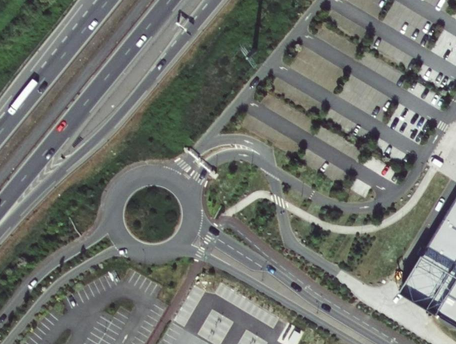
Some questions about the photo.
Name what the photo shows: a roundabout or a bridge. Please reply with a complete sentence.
I can see a roundabout in this picture.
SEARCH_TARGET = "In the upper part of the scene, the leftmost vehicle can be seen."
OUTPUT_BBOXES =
[10,78,40,114]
